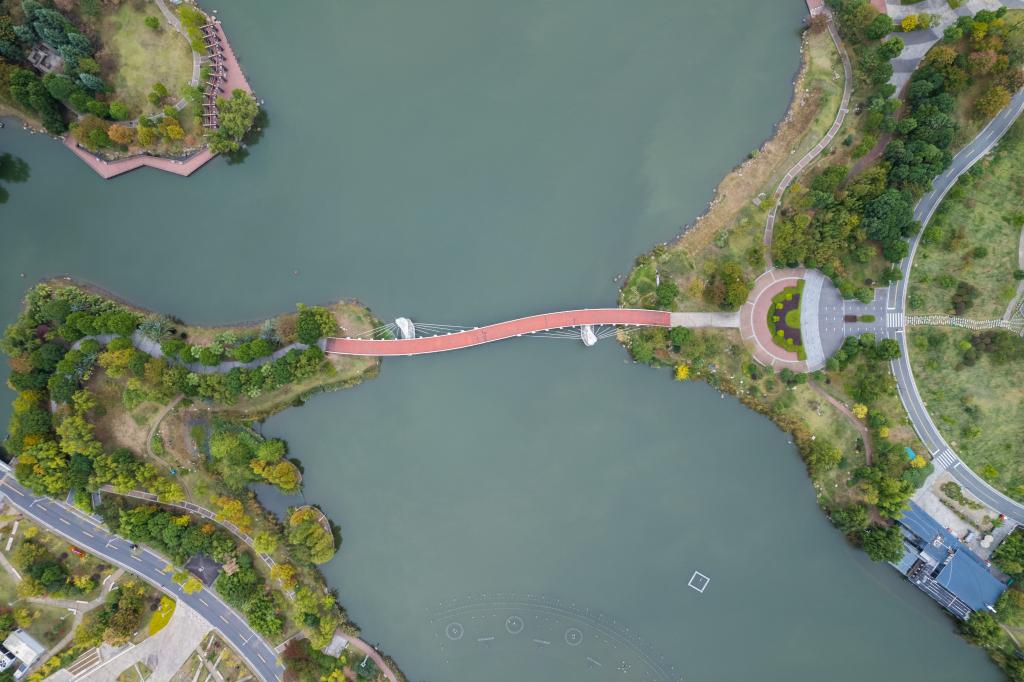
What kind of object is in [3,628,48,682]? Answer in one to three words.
building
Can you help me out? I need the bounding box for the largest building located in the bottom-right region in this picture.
[888,500,1006,622]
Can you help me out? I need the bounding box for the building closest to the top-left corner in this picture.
[28,42,64,74]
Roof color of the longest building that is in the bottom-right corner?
blue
